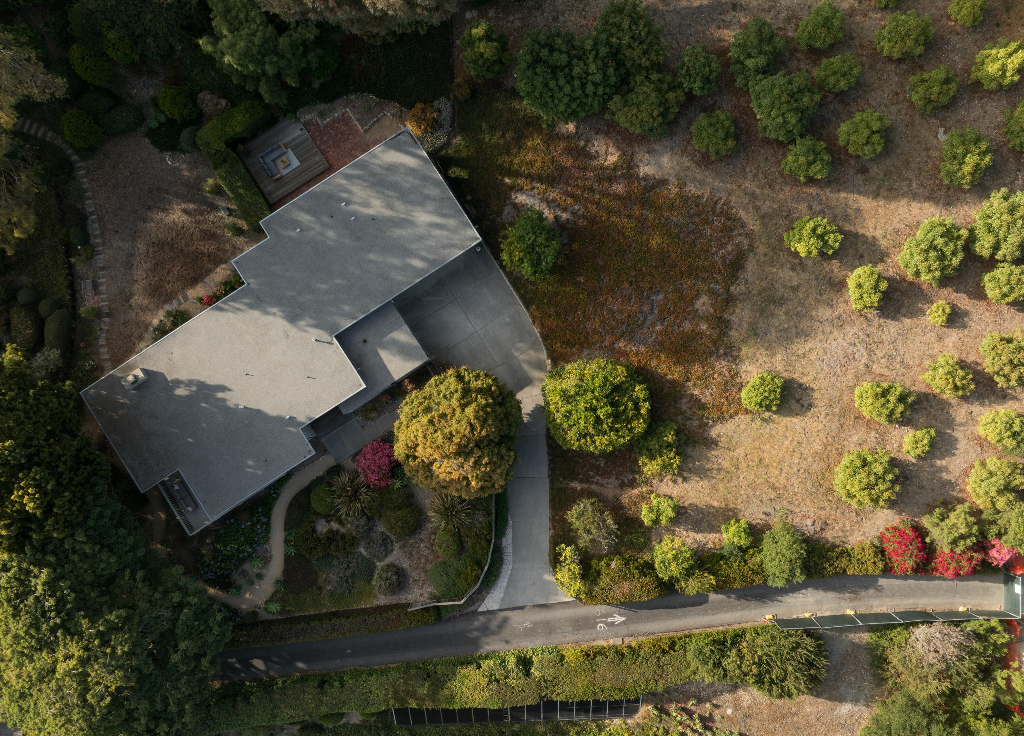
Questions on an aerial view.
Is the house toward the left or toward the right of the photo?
left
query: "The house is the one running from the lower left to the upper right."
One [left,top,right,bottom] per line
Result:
[81,128,482,535]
